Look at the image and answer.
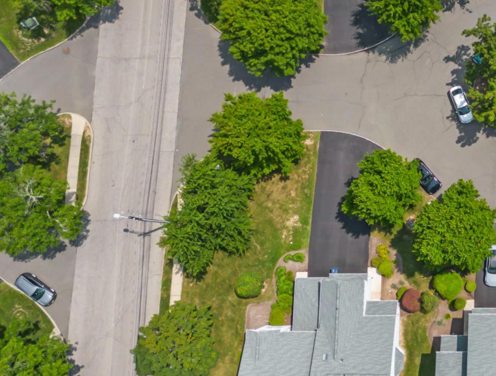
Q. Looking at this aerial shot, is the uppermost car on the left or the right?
right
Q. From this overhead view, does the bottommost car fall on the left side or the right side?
left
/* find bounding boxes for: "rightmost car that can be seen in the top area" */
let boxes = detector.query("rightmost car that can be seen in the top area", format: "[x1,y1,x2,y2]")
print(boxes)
[448,84,473,124]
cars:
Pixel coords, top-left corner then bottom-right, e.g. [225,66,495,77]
[448,84,473,124]
[413,156,444,194]
[485,245,496,288]
[11,274,56,306]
